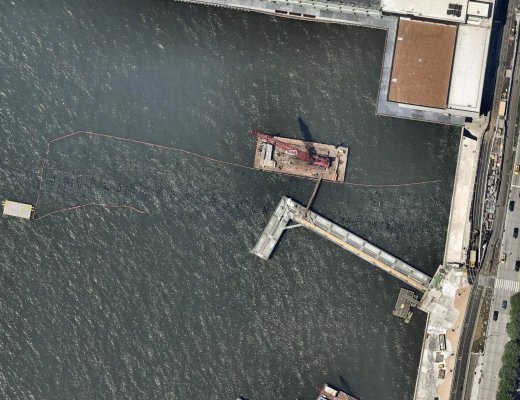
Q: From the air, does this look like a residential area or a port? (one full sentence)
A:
The picture captures a port.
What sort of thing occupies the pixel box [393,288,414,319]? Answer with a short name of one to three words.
pier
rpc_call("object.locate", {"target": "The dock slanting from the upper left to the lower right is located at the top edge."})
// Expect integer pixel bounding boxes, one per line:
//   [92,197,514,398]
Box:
[169,0,481,127]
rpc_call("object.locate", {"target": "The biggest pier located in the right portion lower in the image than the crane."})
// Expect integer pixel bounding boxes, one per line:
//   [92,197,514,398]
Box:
[254,196,432,292]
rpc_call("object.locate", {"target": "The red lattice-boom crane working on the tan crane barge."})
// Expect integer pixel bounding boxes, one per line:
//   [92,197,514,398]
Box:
[250,129,335,170]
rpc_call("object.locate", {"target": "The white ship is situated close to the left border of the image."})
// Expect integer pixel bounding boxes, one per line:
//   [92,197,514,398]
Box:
[2,200,35,219]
